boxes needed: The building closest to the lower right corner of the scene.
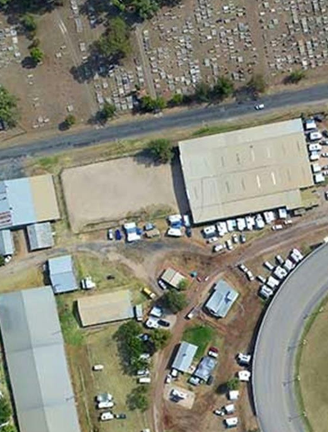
[193,354,219,382]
